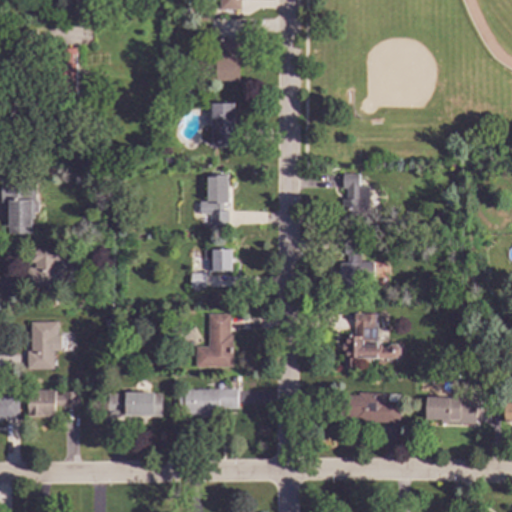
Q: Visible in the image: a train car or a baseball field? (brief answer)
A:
baseball field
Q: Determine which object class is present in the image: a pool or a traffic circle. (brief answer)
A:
pool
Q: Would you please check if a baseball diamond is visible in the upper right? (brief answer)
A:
Yes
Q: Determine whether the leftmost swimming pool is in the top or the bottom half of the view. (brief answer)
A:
top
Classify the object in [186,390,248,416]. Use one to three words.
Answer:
house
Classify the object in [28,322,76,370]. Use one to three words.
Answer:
house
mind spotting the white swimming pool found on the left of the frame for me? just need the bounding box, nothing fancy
[178,108,202,149]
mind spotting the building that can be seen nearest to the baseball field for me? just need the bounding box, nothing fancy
[343,174,371,213]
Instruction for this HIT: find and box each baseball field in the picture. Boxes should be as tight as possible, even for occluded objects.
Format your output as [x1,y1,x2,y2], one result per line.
[360,37,439,115]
